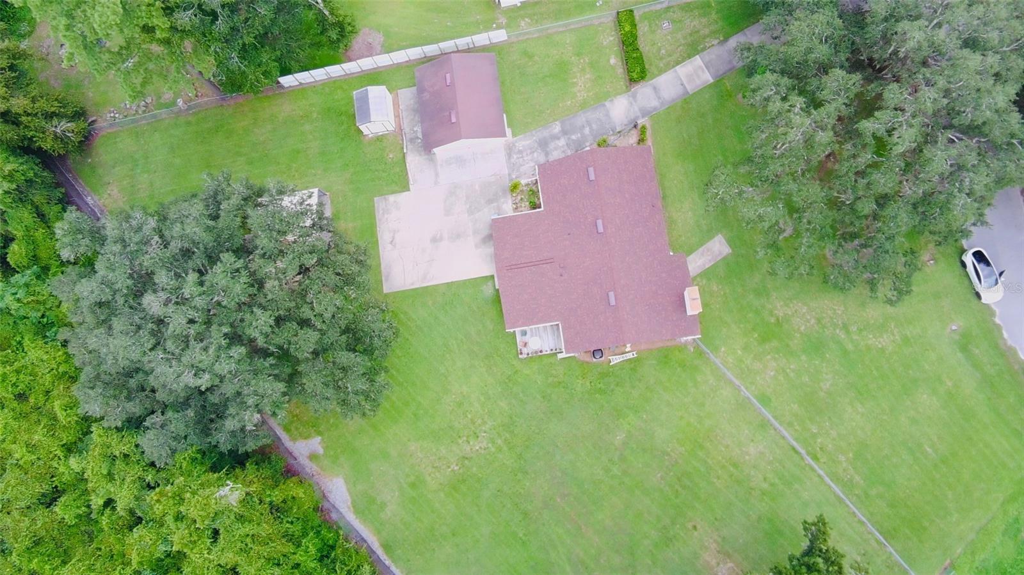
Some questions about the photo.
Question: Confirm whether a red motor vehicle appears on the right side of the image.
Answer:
No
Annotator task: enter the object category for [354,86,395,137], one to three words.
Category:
shed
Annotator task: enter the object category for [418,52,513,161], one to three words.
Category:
building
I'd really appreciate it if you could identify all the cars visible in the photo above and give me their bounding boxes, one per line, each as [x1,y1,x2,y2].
[960,251,1008,306]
